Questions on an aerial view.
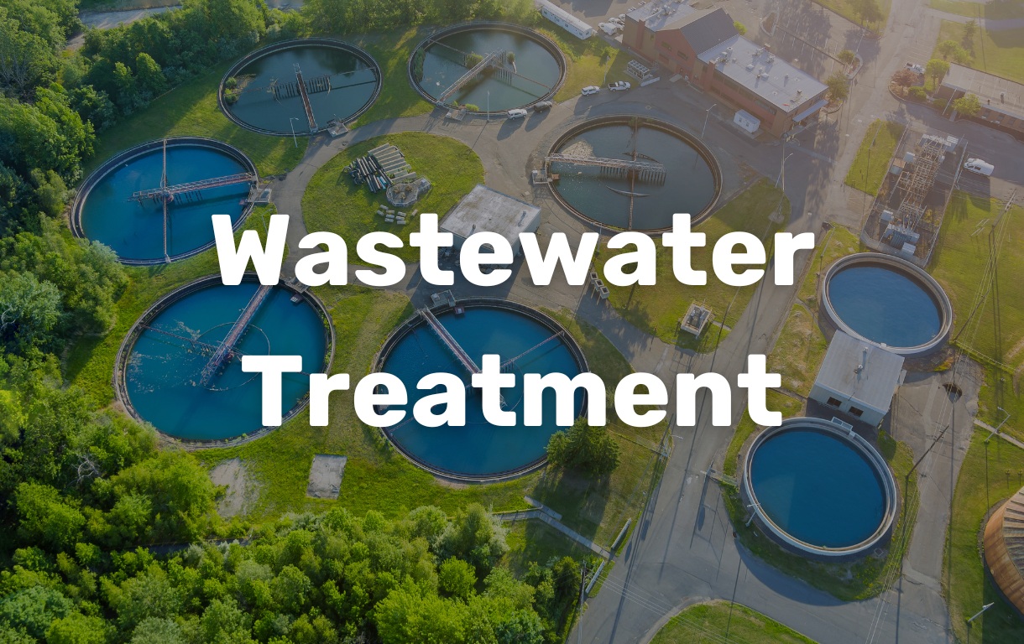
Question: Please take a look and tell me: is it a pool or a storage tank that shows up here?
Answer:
storage tank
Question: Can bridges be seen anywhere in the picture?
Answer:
Yes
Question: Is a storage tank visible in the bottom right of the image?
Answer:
Yes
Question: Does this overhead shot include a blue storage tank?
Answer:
Yes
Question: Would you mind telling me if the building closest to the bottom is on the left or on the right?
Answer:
right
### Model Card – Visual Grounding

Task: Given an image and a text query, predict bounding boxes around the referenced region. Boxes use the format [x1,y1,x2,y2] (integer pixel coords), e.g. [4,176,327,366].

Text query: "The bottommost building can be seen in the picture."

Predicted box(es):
[811,331,907,426]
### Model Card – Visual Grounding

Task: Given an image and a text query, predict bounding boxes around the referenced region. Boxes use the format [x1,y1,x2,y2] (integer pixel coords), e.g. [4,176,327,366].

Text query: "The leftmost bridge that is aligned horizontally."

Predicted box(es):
[118,163,260,208]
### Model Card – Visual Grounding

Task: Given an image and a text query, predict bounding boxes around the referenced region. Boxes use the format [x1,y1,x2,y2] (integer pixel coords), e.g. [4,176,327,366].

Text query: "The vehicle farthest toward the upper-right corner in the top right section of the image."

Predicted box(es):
[905,59,928,74]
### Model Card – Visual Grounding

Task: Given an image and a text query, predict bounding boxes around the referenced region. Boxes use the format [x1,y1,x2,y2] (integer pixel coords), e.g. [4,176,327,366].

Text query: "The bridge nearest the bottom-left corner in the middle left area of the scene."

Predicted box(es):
[197,268,285,385]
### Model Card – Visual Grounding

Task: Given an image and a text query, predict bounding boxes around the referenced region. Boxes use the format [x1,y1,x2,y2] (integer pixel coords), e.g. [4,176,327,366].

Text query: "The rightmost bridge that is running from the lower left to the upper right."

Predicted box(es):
[434,45,504,105]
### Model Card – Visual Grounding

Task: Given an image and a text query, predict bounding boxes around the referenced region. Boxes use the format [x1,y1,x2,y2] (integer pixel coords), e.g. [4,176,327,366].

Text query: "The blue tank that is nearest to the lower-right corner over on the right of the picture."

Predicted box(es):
[738,417,898,562]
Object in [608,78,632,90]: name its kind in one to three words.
vehicle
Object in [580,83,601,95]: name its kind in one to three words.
vehicle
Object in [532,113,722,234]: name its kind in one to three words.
storage tank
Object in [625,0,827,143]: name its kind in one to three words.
building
